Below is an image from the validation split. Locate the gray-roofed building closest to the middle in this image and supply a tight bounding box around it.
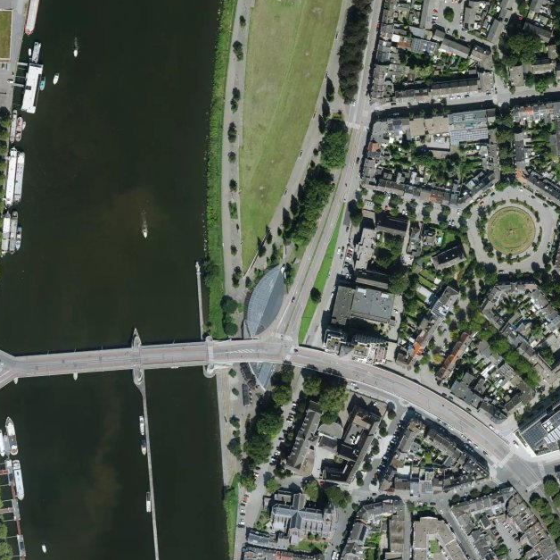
[247,265,284,336]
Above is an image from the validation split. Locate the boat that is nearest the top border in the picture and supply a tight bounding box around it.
[26,0,38,35]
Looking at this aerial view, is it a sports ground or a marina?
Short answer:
marina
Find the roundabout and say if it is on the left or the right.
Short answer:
right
